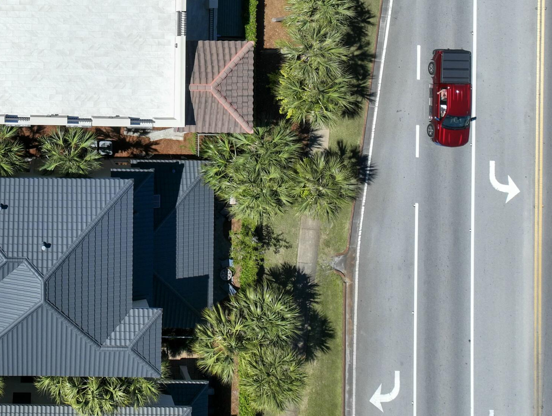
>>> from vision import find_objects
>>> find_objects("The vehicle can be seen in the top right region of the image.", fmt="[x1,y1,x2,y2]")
[425,45,476,147]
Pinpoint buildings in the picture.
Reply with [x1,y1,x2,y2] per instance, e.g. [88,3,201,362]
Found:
[0,158,215,381]
[0,0,256,133]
